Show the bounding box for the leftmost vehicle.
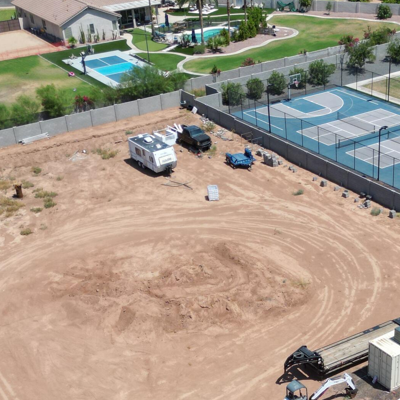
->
[128,134,174,175]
